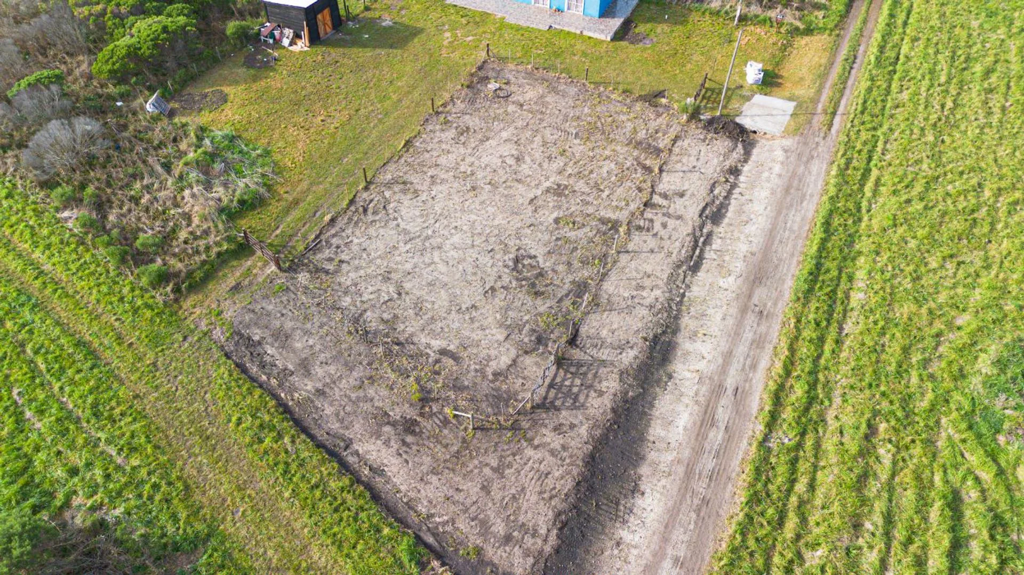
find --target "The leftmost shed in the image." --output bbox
[270,0,341,43]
